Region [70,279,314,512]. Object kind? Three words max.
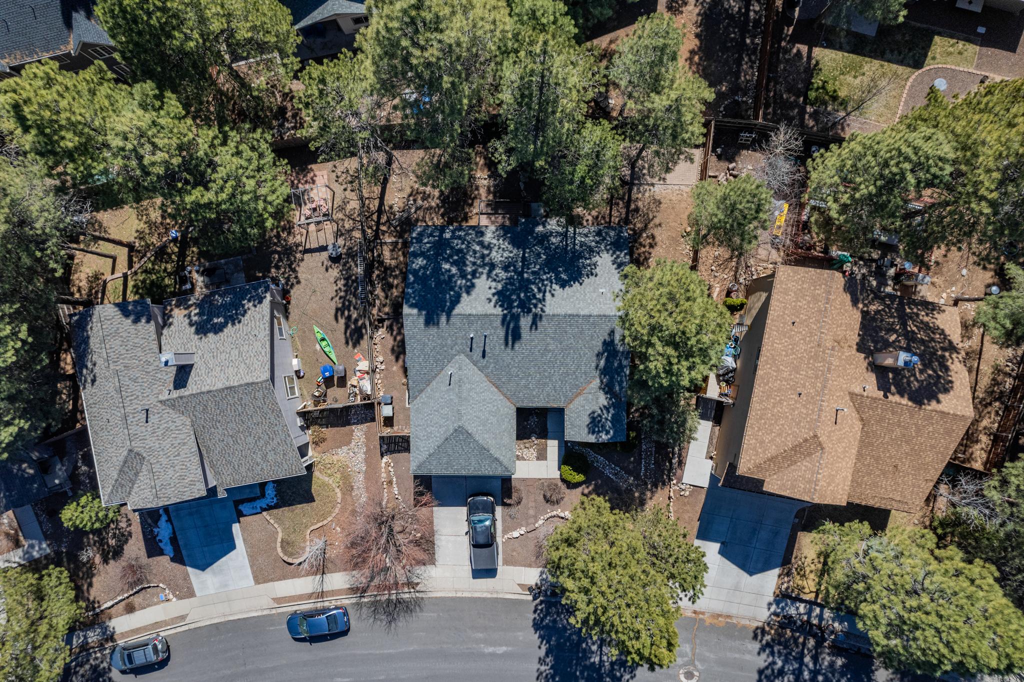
house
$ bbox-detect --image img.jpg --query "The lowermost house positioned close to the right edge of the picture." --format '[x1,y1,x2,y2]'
[718,265,974,514]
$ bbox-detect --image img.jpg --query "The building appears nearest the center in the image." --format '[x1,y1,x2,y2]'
[402,218,634,475]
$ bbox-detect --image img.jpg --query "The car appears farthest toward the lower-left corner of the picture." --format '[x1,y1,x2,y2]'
[108,637,170,677]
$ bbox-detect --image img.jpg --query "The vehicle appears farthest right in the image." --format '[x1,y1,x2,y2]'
[466,493,500,577]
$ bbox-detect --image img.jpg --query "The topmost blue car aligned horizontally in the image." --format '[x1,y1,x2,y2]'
[286,609,352,645]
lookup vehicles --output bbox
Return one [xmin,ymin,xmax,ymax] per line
[108,637,170,677]
[286,609,352,645]
[466,493,500,577]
